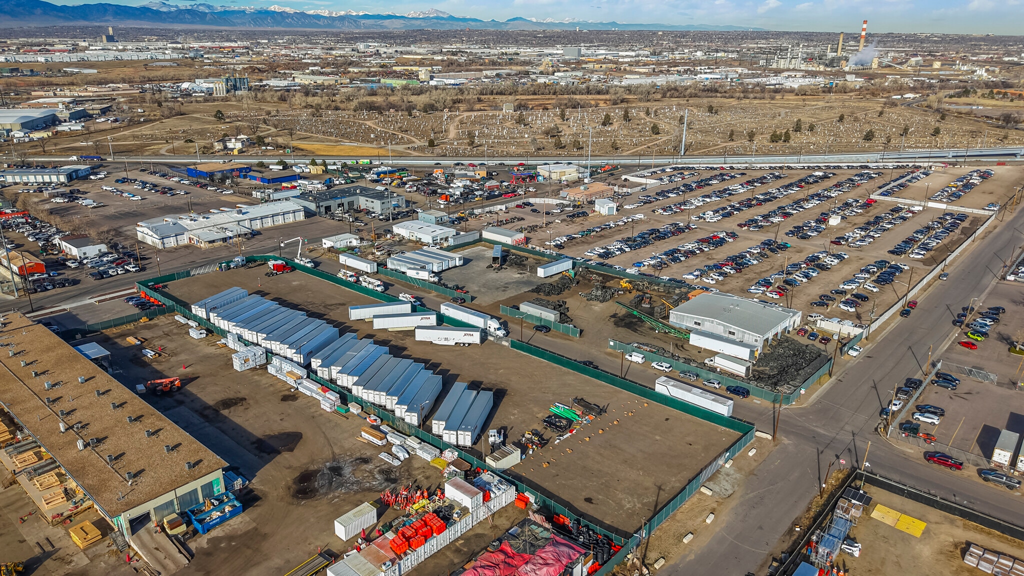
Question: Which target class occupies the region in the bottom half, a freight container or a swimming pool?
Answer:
freight container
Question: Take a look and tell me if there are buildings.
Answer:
Yes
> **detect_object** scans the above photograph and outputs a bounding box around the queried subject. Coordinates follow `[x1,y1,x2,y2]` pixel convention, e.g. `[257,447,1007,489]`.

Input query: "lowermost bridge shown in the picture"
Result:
[862,140,1024,160]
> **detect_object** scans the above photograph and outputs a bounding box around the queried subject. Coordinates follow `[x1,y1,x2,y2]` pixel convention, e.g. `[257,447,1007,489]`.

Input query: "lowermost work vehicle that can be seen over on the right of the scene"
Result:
[838,535,862,554]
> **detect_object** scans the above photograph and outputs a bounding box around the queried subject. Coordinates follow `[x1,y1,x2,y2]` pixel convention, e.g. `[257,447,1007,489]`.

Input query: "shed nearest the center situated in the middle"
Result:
[484,226,526,244]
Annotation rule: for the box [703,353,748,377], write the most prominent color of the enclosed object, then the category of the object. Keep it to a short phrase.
white truck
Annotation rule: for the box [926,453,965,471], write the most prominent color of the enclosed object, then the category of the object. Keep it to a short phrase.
red vehicle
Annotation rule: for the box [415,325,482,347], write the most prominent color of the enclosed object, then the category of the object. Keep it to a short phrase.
white trailer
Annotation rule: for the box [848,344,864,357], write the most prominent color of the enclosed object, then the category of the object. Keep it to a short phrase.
white vehicle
